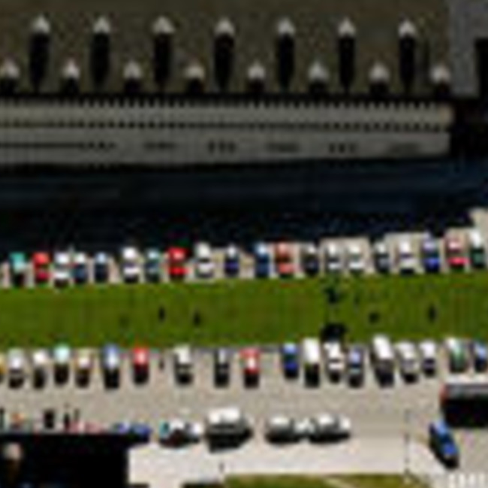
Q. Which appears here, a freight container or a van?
van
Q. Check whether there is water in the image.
No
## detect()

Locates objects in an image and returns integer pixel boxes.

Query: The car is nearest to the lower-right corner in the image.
[426,423,462,458]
